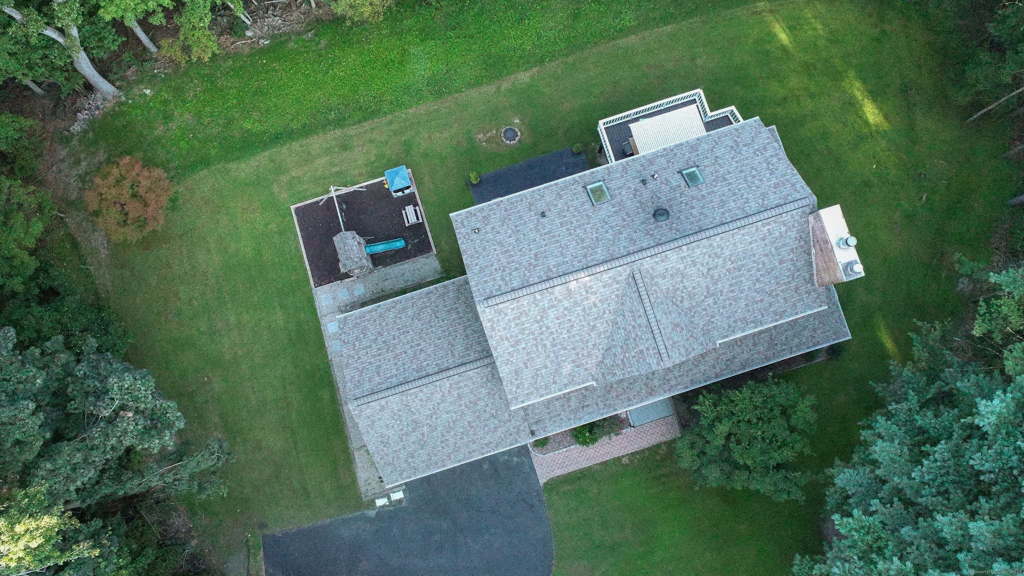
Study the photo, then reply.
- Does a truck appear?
No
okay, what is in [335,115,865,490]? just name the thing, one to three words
house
